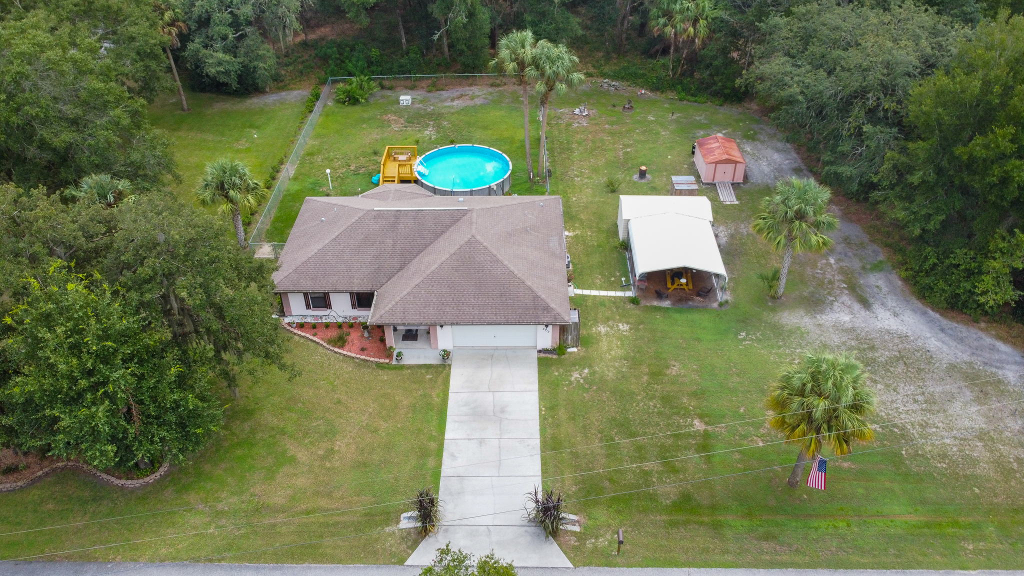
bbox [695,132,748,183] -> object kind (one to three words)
shed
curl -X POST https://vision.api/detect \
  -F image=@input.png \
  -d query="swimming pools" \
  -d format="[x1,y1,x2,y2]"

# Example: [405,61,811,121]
[415,144,512,195]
